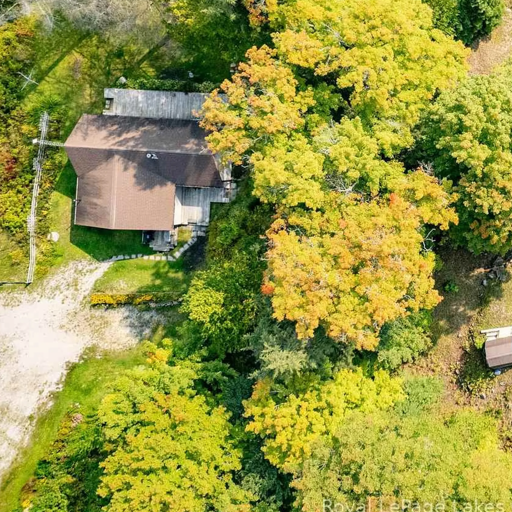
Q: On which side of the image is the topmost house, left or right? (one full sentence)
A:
The topmost house appears in the left half of the scene.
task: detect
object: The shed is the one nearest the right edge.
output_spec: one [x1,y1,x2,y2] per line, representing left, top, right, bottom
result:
[486,328,512,367]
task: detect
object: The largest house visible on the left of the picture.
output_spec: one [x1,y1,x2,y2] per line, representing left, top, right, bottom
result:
[64,114,230,230]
